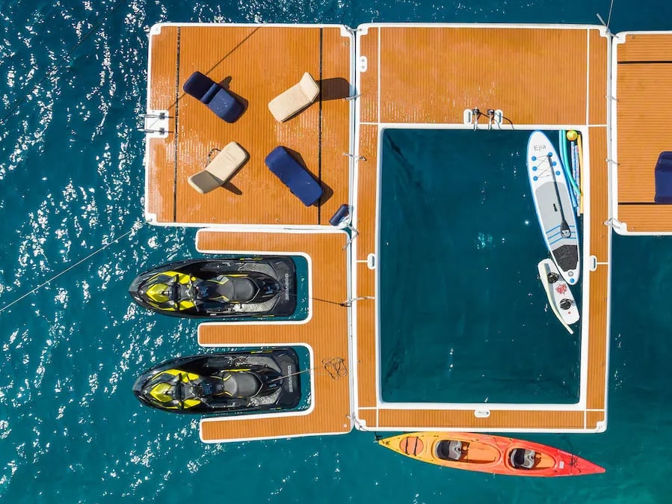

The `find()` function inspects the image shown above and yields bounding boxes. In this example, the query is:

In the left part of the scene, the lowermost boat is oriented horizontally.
[133,346,305,414]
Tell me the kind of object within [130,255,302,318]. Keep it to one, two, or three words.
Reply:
boat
